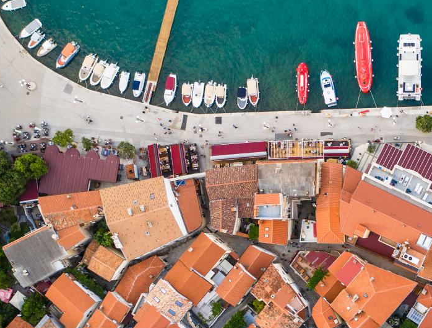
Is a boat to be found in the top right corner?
Yes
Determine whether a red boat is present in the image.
Yes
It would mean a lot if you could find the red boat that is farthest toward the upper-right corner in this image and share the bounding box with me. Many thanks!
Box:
[352,21,375,94]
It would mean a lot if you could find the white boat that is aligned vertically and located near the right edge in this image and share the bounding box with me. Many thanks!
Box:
[395,33,425,106]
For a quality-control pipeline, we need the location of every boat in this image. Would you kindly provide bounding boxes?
[193,79,204,108]
[247,76,261,107]
[181,80,193,107]
[37,37,60,57]
[81,52,100,81]
[295,64,311,106]
[215,83,226,108]
[238,85,249,109]
[204,79,217,108]
[19,17,44,38]
[395,33,425,106]
[322,70,339,108]
[118,70,130,94]
[132,70,146,97]
[352,21,375,94]
[56,41,82,69]
[102,62,122,88]
[92,59,110,85]
[1,0,28,13]
[163,71,178,106]
[27,29,46,49]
